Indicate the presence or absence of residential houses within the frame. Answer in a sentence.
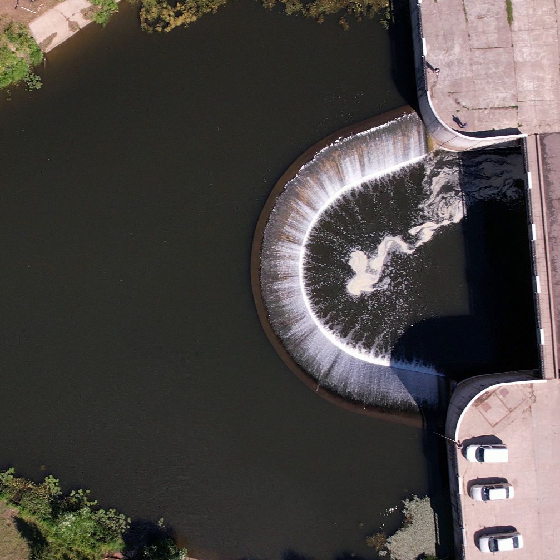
No, I can see no residential house in this picture.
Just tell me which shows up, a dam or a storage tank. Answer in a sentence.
Visible in the photo is a dam.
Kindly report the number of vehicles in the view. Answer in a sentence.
My tally gives 3 vehicles in this view.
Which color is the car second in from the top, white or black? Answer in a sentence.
From above, the car second in from the top appears white.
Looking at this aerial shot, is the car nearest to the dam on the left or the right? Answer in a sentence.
The car nearest to the dam appears in the right half of the scene.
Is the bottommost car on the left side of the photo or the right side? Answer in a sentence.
It is on the right.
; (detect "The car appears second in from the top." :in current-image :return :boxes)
[470,482,515,503]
